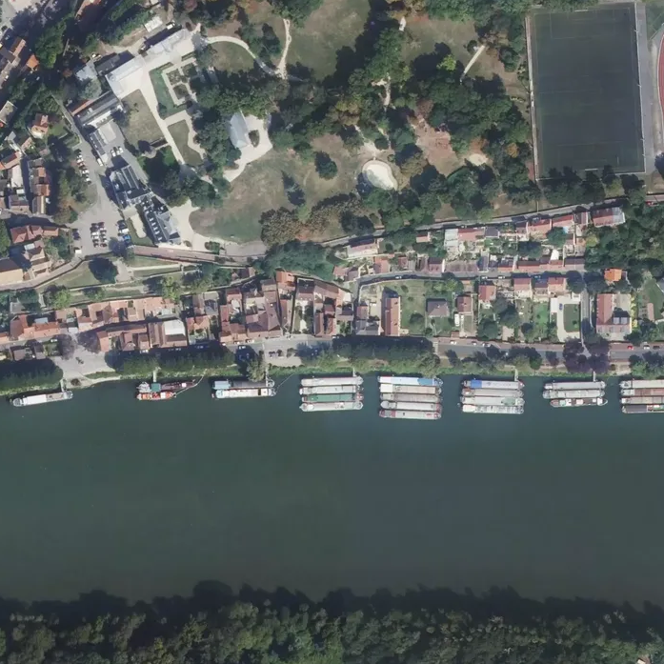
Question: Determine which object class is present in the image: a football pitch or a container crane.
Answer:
football pitch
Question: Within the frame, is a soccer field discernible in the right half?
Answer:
Yes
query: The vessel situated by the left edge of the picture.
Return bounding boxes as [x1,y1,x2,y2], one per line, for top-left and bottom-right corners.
[13,391,74,406]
